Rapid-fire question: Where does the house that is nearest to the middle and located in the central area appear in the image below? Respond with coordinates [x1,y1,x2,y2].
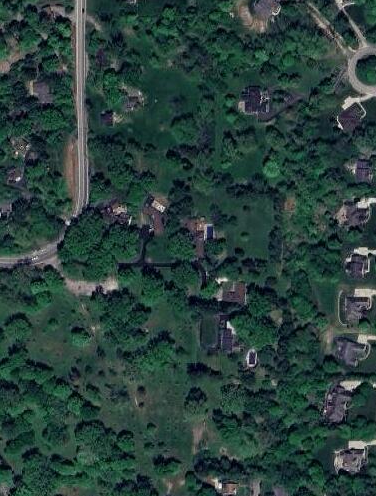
[185,220,205,256]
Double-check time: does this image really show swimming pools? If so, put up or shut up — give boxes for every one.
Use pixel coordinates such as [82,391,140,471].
[205,225,214,239]
[247,350,256,366]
